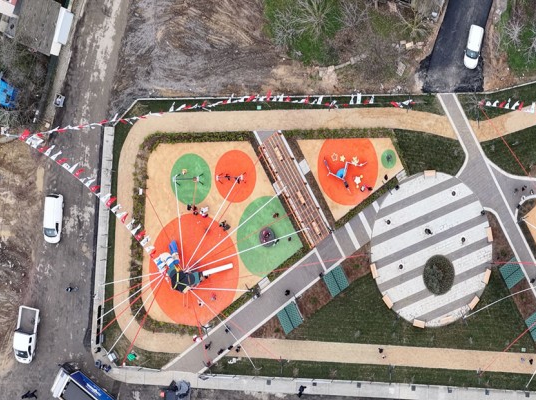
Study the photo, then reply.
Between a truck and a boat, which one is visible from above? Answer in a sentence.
Looking from above, you can make out a truck.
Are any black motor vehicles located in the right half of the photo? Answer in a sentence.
No, looking in the right half of the photo, there is no black motor vehicle.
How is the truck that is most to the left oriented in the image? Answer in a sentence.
In this picture, the truck that is most to the left lies from top to bottom.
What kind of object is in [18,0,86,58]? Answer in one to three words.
house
